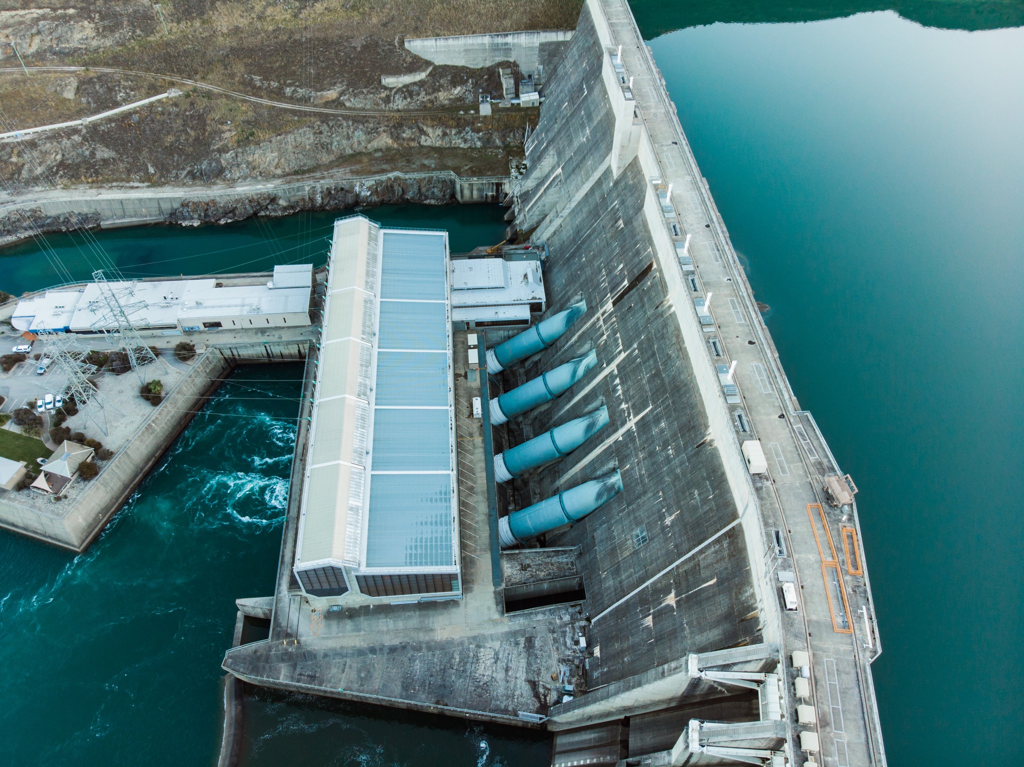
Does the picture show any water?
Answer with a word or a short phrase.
Yes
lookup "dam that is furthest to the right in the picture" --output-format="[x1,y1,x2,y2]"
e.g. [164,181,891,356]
[504,0,888,767]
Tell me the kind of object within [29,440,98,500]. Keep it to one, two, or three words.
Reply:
building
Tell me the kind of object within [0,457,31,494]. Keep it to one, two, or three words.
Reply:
building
